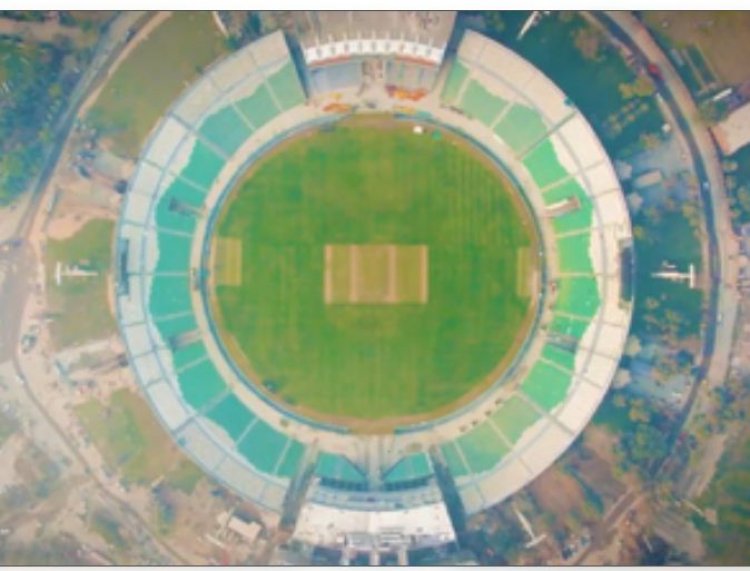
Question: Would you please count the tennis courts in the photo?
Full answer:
No tennis courts are visible.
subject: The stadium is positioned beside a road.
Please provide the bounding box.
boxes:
[116,0,634,571]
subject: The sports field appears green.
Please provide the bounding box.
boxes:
[207,118,541,430]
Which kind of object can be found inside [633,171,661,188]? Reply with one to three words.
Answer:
building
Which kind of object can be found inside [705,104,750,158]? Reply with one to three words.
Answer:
building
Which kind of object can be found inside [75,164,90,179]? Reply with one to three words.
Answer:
vehicle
